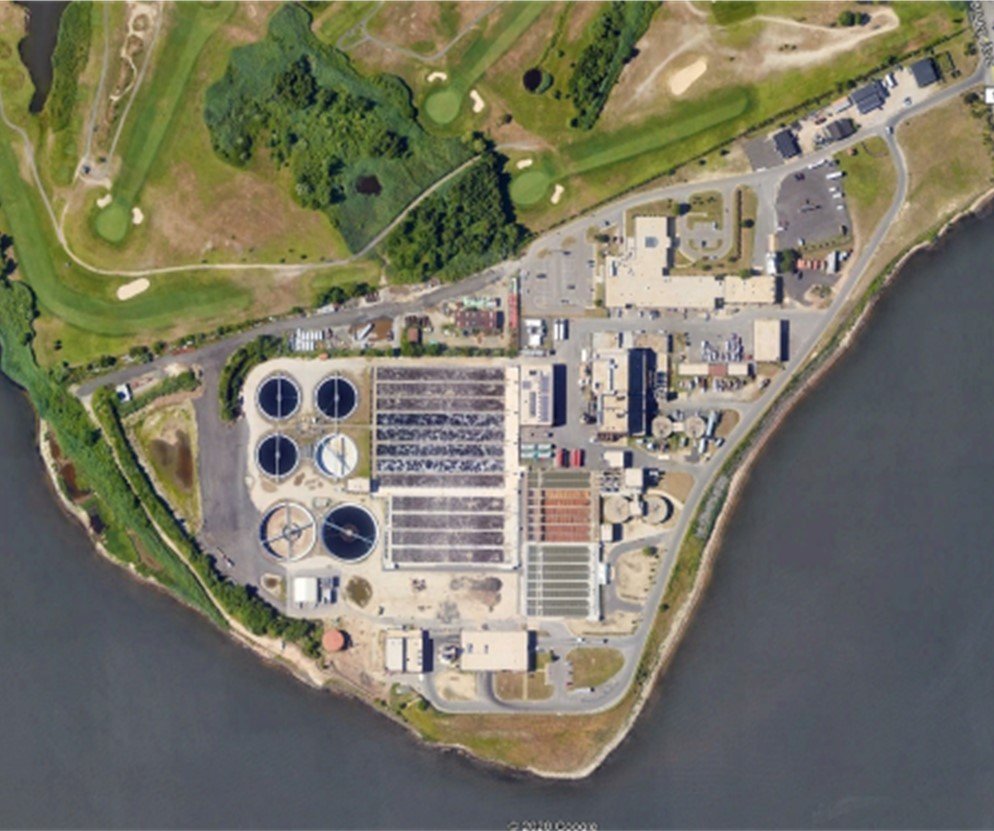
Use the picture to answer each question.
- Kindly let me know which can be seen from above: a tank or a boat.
tank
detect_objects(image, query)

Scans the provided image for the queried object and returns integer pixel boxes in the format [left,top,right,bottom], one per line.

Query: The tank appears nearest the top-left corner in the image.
[256,375,302,420]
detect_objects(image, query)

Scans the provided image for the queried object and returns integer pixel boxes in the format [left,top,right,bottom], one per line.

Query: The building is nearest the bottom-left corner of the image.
[294,578,316,603]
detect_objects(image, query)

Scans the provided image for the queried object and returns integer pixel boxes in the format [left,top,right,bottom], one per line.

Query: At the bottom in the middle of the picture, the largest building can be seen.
[461,631,527,672]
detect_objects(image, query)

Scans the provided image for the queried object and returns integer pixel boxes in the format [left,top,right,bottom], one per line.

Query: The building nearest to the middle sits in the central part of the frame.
[520,364,552,424]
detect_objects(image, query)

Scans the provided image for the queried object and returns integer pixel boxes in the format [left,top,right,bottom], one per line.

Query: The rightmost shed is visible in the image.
[911,56,941,87]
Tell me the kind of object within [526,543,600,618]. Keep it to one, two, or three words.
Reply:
storage tank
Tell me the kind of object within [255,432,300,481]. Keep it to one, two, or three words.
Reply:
storage tank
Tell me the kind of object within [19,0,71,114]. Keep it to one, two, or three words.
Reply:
pond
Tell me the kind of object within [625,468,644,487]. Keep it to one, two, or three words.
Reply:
building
